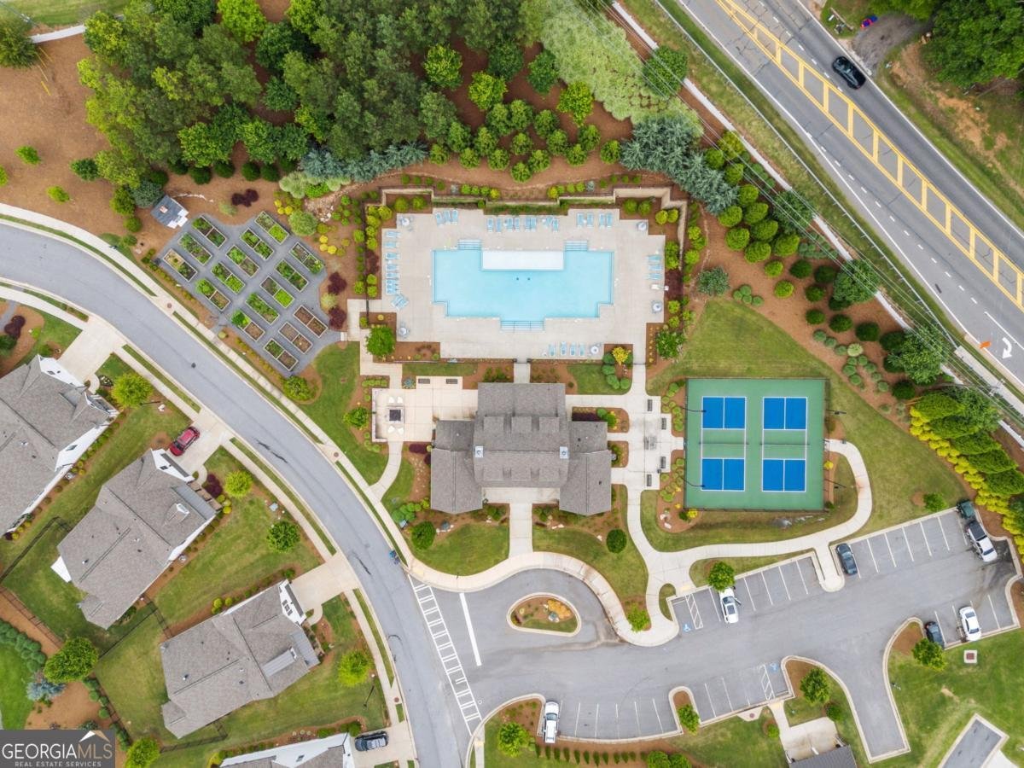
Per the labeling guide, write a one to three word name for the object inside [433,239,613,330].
swimming pool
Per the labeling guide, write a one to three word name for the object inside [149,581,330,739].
house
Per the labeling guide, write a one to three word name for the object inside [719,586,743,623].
car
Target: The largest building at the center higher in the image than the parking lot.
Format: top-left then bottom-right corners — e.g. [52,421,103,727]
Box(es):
[431,384,611,513]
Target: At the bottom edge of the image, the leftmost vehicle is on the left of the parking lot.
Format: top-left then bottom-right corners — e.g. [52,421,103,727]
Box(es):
[354,732,390,754]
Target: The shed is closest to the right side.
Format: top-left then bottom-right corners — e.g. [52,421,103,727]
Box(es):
[790,736,862,768]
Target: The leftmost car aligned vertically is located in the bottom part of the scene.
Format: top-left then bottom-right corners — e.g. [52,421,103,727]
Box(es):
[542,705,560,744]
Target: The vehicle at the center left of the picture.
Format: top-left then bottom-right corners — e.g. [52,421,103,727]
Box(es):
[168,425,197,458]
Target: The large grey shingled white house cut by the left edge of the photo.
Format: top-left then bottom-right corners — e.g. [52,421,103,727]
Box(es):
[0,355,125,544]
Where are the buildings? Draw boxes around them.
[49,447,229,630]
[149,581,330,739]
[217,732,371,768]
[144,190,187,235]
[790,736,862,768]
[431,384,611,513]
[0,355,125,544]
